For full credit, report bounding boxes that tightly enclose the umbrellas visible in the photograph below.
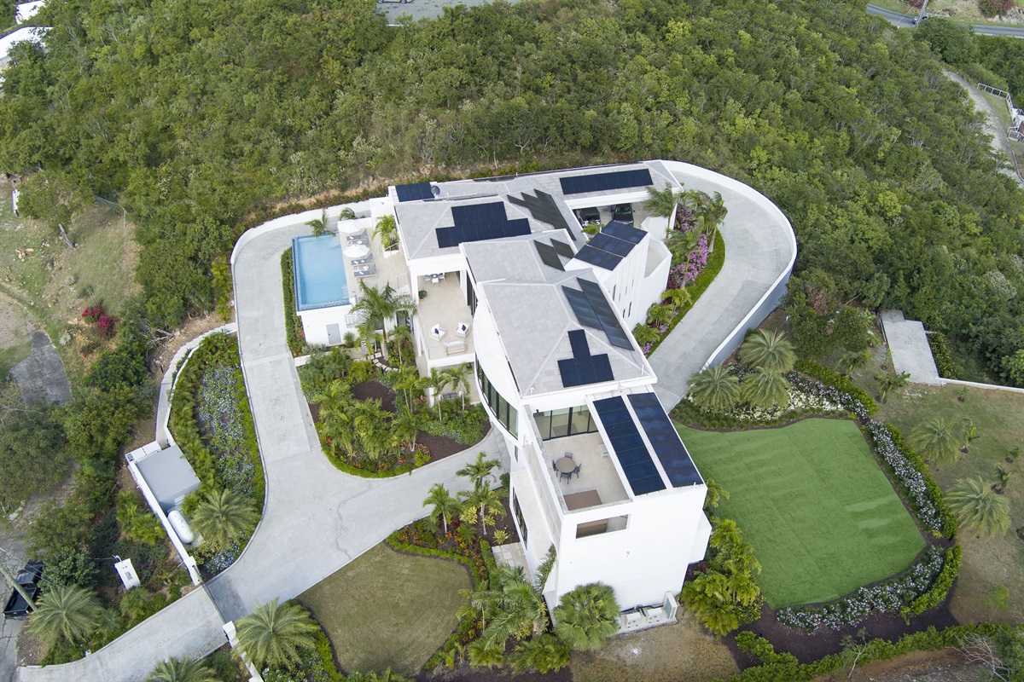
[342,242,372,272]
[335,218,362,243]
